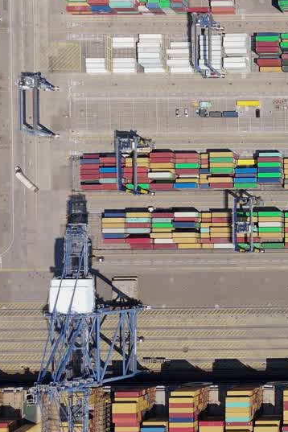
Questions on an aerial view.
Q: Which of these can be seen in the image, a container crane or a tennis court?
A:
container crane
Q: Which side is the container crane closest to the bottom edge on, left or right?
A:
left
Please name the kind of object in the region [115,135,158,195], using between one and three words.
container crane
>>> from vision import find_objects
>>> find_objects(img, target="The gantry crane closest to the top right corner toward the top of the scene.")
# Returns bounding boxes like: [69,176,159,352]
[191,13,227,82]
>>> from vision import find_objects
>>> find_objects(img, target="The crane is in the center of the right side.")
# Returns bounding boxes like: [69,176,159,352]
[232,194,268,252]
